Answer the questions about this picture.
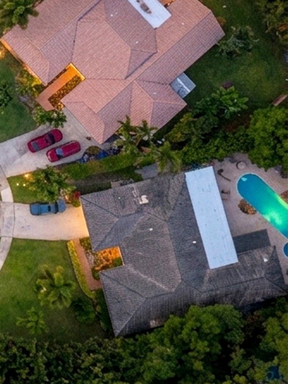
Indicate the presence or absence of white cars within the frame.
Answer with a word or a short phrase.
No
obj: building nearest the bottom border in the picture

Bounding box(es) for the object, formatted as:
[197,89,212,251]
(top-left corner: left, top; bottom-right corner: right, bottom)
[75,166,288,337]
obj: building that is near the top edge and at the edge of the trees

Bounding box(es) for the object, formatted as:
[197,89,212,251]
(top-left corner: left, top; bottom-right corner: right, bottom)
[0,0,227,144]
